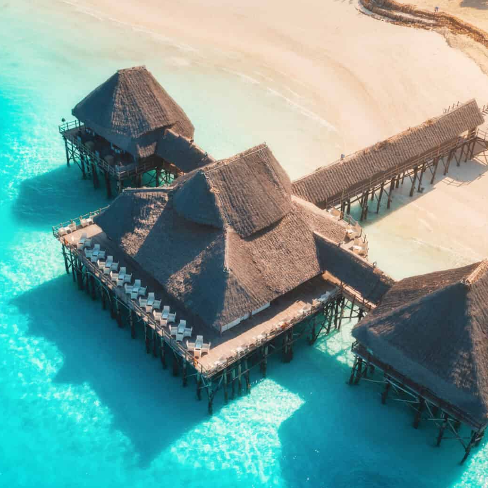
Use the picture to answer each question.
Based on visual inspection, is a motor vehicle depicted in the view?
No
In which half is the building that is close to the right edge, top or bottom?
bottom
